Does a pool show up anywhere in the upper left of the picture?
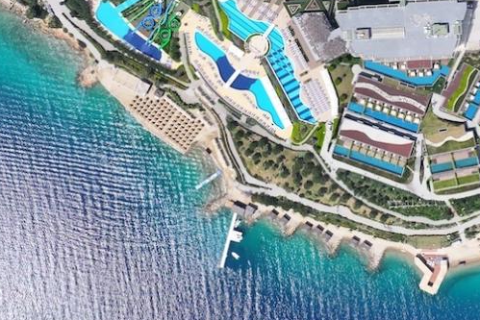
Yes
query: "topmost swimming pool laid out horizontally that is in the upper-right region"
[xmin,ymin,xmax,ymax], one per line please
[364,60,450,87]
